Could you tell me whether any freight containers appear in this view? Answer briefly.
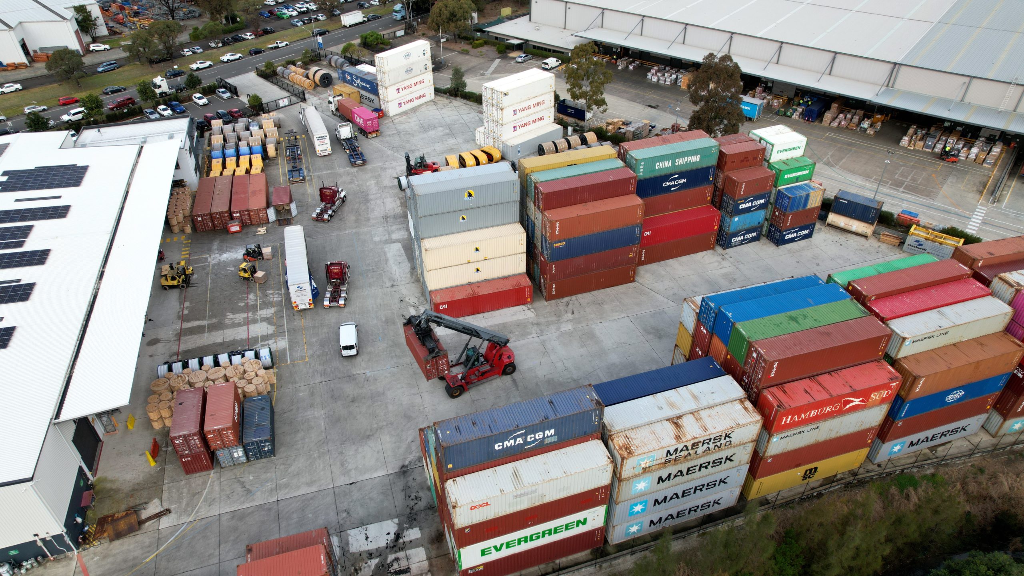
Yes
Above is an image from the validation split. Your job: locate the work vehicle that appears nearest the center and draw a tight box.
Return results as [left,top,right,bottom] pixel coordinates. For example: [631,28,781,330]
[404,318,521,399]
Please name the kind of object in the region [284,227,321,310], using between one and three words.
trailer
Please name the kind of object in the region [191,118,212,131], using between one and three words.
vehicle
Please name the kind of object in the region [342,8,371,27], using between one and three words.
vehicle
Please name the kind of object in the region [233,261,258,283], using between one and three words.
work vehicle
